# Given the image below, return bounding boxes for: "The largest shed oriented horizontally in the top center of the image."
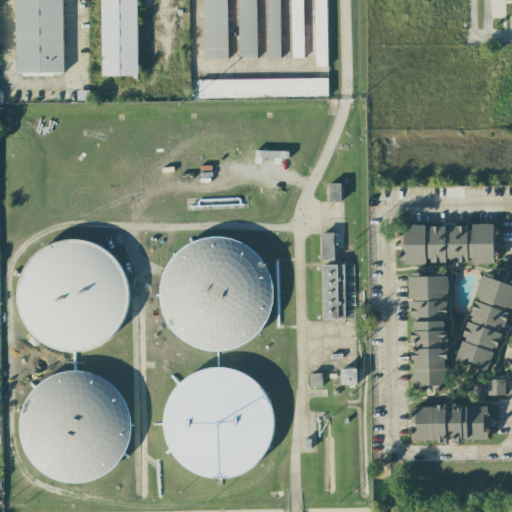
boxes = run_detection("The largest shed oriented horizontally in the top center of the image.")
[198,78,330,97]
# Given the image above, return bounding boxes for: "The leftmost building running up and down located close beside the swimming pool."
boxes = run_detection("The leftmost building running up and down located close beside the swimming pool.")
[410,276,450,388]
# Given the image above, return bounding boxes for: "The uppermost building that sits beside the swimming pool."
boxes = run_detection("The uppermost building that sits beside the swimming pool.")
[404,224,497,264]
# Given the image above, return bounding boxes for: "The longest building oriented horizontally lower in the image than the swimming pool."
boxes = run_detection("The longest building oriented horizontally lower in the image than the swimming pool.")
[412,406,490,444]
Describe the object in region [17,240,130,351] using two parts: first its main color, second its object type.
white storage tank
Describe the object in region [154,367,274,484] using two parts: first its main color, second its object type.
white storage tank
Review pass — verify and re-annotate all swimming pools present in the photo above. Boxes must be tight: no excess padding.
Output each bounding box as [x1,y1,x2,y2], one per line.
[454,268,482,314]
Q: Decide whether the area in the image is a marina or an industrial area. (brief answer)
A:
industrial area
